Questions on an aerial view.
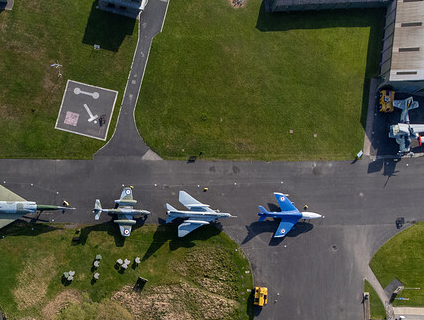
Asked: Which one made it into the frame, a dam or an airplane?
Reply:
airplane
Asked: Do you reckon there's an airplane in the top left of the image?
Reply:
No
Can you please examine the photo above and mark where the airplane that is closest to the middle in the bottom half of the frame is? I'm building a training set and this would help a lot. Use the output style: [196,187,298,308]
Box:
[165,190,237,236]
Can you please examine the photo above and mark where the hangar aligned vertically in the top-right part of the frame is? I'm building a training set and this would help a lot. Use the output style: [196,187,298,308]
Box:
[377,0,424,110]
